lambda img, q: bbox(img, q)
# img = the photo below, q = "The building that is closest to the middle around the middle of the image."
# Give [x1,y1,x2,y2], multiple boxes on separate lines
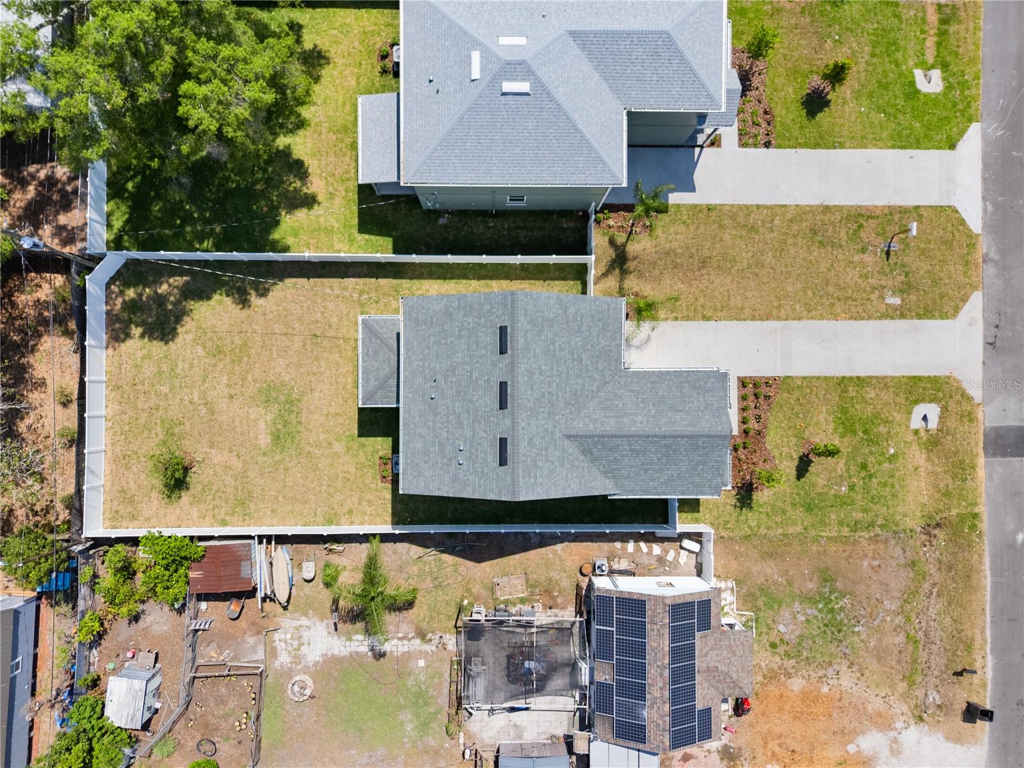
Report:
[356,290,732,501]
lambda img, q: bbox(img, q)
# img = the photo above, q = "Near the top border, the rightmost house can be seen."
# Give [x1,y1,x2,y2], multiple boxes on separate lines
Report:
[356,0,739,210]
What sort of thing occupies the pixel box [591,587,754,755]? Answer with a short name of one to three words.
house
